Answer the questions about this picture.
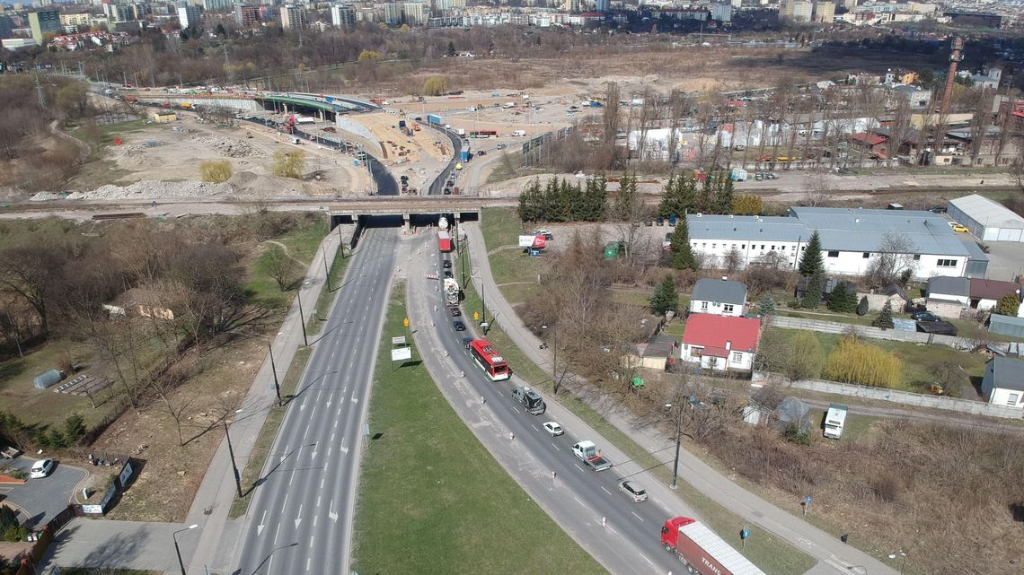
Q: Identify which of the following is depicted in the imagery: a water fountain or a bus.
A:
bus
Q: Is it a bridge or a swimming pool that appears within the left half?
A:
bridge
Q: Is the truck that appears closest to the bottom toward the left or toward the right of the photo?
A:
right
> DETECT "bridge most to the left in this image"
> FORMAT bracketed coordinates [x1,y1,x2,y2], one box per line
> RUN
[254,90,382,122]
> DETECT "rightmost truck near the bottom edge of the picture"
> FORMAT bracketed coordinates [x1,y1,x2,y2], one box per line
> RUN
[659,509,768,575]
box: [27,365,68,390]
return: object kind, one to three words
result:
greenhouse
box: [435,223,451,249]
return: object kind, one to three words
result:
vehicle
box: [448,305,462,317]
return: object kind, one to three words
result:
vehicle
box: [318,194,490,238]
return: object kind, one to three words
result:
bridge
